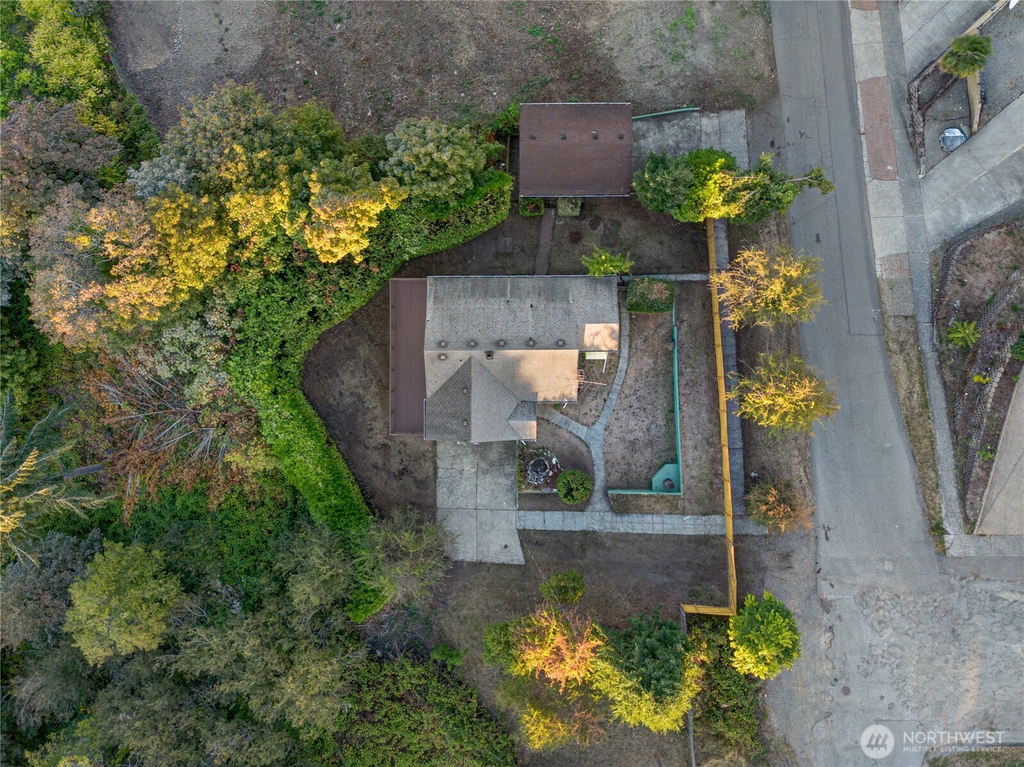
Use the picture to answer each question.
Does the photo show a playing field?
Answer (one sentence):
No, this view has no playing field in it.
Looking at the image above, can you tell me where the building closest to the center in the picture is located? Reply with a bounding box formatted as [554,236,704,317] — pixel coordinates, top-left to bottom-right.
[422,274,620,443]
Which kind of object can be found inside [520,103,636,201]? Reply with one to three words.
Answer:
building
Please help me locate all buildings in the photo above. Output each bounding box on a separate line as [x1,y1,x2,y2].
[520,103,636,201]
[422,274,620,443]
